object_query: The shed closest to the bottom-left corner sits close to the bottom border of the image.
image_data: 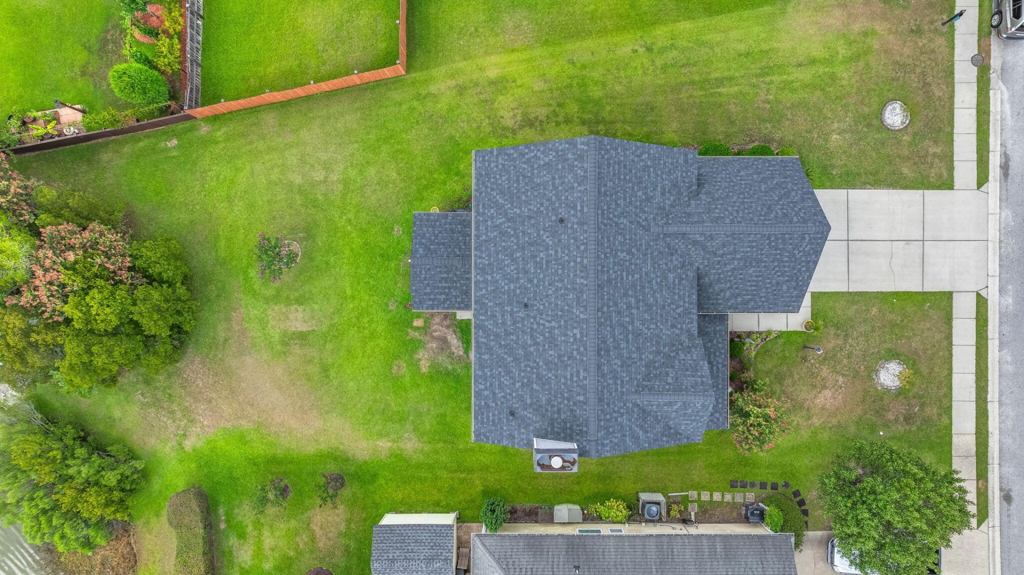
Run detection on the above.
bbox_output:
[371,510,458,575]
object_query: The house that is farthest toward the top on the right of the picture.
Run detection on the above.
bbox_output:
[410,136,831,474]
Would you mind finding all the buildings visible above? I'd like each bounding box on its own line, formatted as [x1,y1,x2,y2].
[371,510,458,575]
[410,136,831,474]
[471,522,798,575]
